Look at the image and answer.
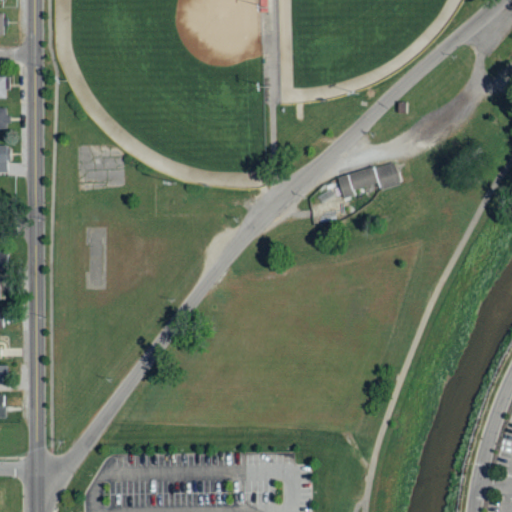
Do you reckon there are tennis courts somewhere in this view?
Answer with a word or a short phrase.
Yes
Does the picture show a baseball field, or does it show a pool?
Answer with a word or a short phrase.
baseball field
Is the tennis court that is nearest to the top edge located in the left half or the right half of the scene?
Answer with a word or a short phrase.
left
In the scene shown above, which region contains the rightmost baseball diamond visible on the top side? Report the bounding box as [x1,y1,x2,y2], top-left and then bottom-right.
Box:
[278,0,464,104]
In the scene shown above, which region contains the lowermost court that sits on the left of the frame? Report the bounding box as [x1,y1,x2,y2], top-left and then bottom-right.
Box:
[86,227,107,290]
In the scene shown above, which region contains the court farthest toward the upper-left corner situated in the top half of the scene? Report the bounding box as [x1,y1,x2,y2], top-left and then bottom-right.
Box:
[78,144,125,191]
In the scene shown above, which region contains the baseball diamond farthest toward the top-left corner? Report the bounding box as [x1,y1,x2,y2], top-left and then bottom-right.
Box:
[54,0,264,189]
